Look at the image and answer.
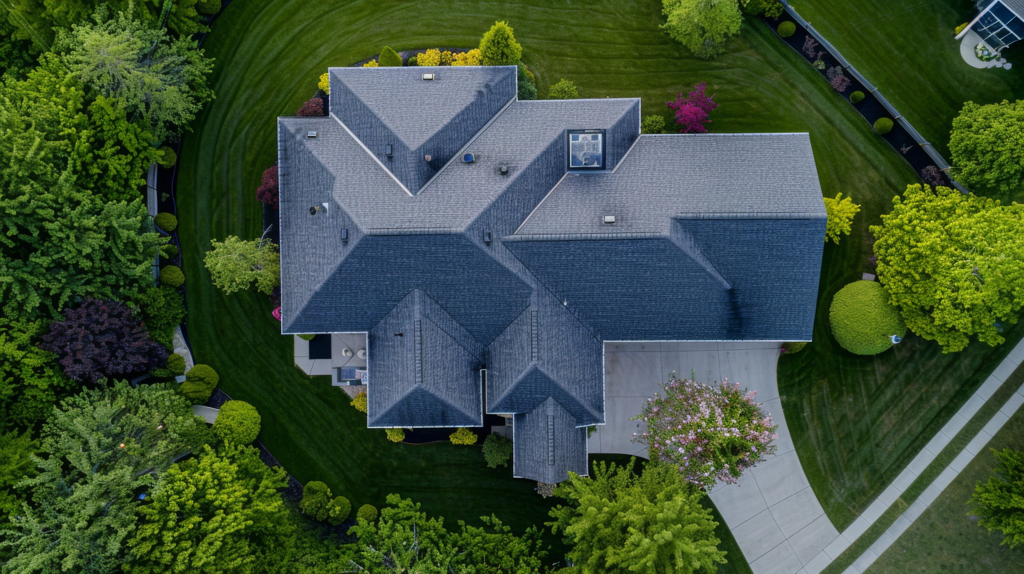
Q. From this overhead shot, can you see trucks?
No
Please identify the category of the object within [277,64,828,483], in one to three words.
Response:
house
